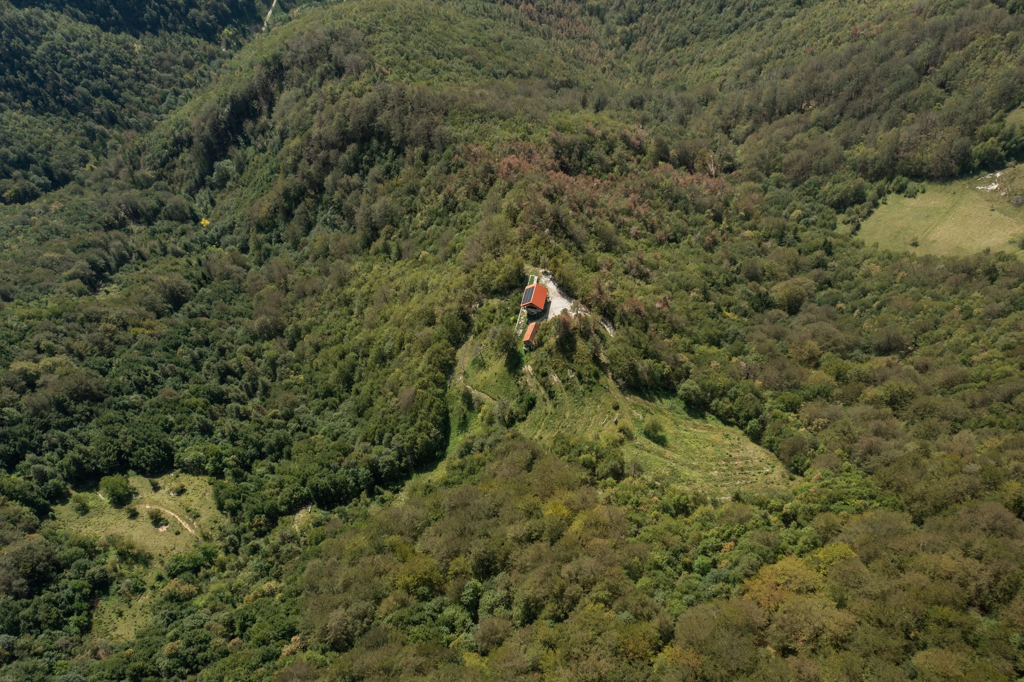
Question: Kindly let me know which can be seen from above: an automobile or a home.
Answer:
home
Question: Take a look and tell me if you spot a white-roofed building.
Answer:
No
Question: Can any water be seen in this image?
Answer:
No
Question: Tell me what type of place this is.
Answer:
forest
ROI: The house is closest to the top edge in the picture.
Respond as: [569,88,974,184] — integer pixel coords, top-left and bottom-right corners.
[519,283,548,317]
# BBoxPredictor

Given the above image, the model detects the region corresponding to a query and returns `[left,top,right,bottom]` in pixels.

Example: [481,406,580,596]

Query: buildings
[519,283,548,317]
[523,322,540,348]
